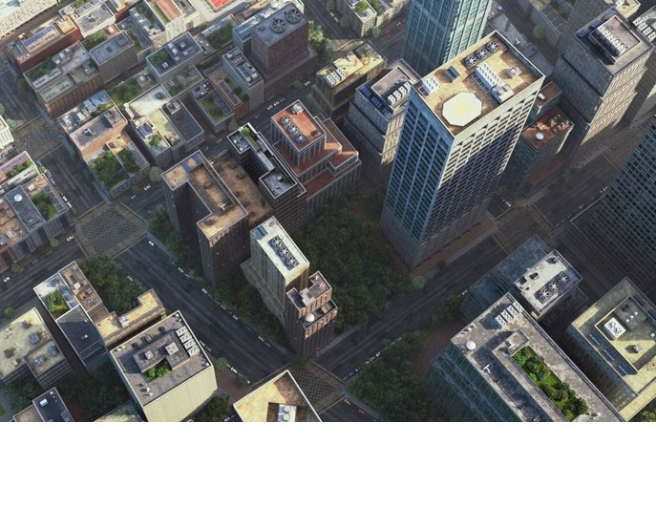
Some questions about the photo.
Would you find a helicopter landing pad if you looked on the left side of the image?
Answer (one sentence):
No, there is no helicopter landing pad on the left side of the image.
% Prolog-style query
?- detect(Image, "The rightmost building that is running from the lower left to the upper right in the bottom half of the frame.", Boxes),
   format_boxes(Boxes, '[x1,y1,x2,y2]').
[616,385,656,424]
